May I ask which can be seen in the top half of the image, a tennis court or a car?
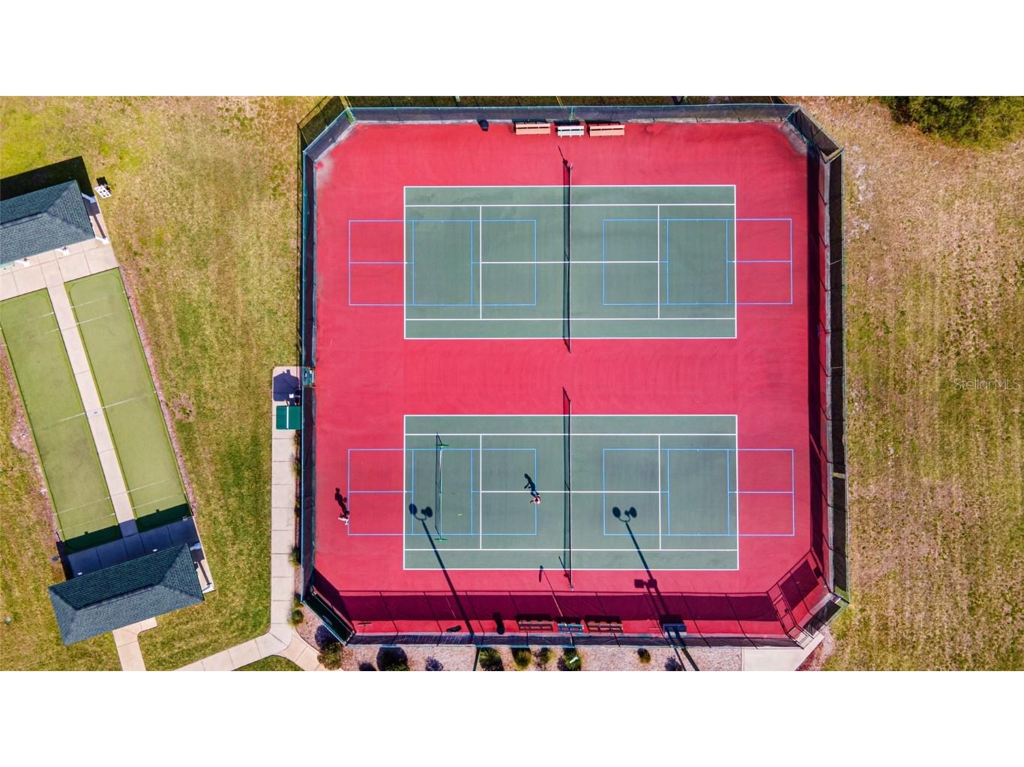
tennis court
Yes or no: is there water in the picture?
No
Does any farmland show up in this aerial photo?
No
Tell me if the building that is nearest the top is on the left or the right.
left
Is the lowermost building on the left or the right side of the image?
left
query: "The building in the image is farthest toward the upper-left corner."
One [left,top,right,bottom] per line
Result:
[0,180,110,267]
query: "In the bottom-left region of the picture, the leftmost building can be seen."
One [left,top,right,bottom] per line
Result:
[48,542,216,645]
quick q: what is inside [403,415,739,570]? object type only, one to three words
tennis court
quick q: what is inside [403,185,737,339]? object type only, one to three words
tennis court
